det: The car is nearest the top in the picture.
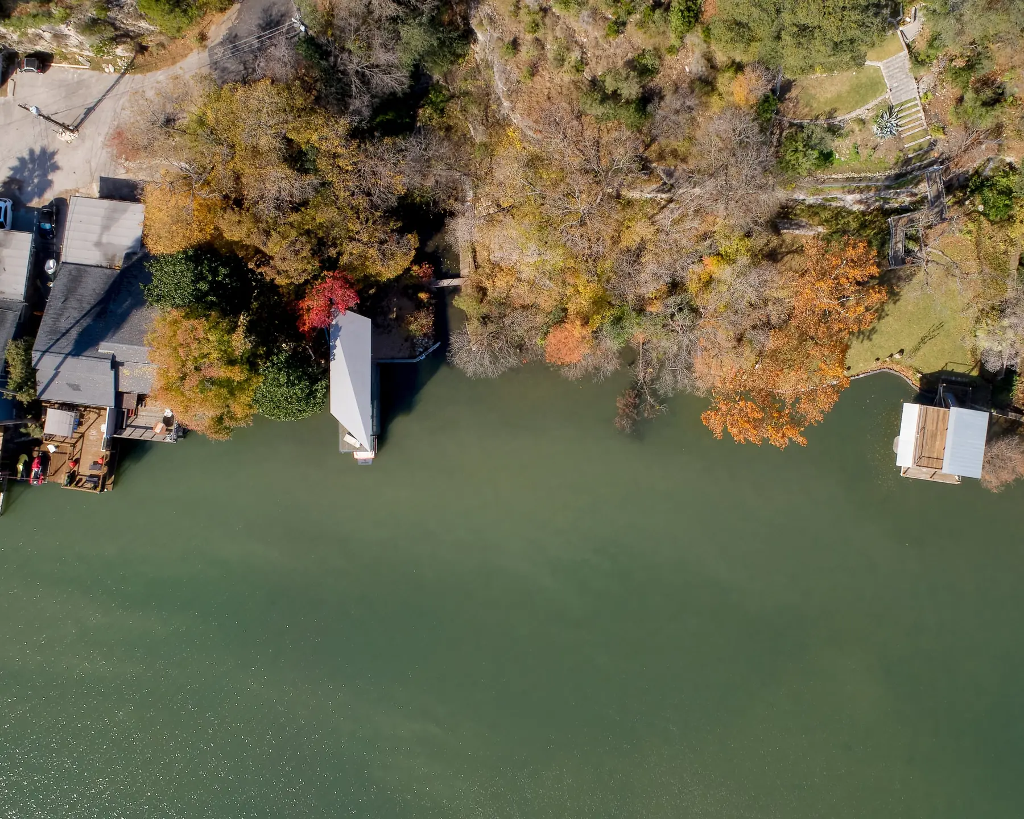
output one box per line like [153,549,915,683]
[8,49,47,73]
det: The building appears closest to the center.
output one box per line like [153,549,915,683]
[323,308,381,454]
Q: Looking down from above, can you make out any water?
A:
Yes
